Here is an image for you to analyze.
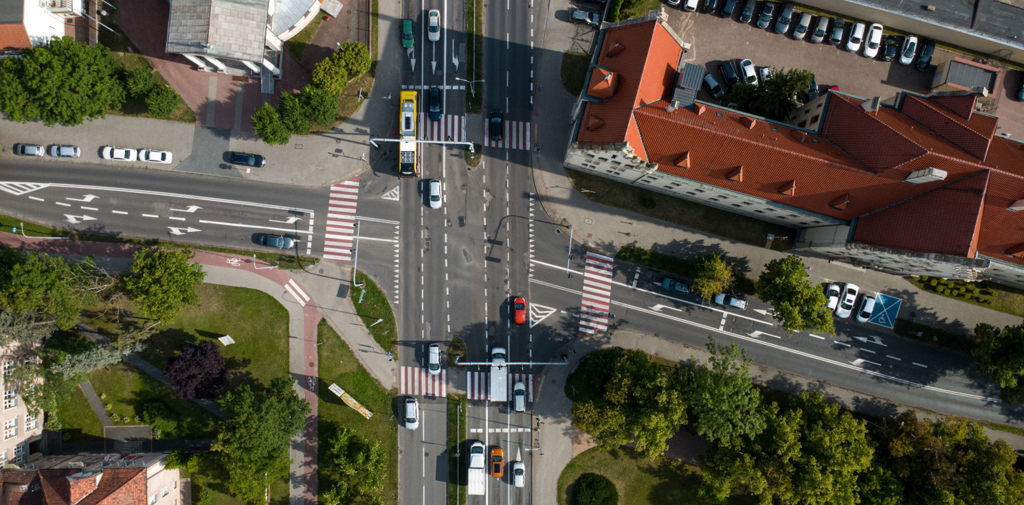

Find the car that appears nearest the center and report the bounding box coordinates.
[512,296,526,324]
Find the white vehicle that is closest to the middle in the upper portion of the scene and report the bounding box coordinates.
[427,180,442,209]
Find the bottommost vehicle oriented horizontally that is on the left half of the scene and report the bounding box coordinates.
[261,234,295,249]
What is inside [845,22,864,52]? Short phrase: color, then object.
white car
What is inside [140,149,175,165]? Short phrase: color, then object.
white car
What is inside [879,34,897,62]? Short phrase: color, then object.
black car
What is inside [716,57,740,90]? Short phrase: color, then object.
black car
